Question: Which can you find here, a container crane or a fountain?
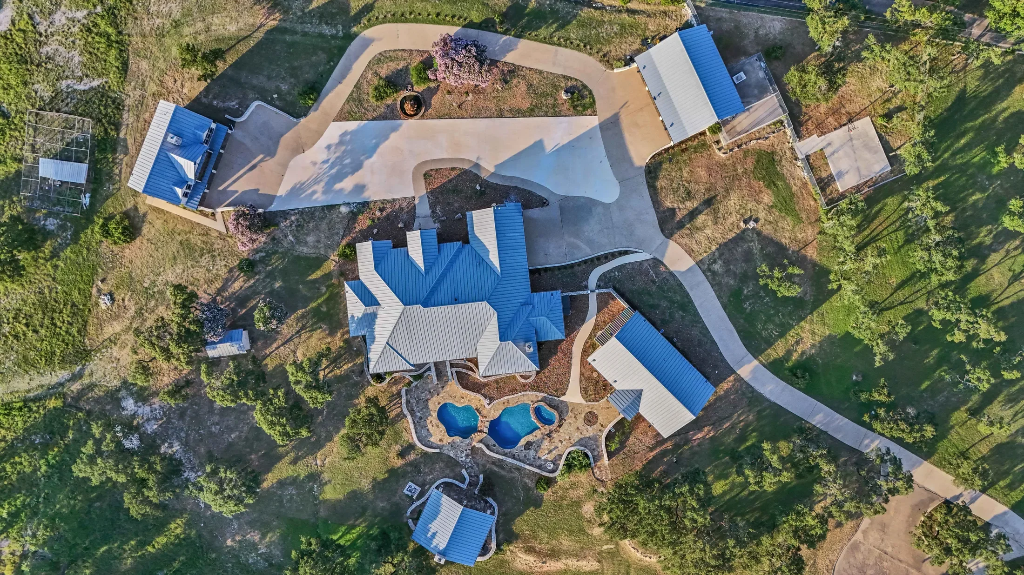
fountain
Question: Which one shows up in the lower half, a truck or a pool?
pool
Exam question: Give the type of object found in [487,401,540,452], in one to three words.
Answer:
swimming pool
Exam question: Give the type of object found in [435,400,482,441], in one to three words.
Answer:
swimming pool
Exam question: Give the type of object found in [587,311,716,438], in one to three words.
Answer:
building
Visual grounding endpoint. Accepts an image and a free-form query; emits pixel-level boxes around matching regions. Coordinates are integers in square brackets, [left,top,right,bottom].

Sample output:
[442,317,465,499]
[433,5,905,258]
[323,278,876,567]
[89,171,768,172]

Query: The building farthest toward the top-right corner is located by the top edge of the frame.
[635,24,745,143]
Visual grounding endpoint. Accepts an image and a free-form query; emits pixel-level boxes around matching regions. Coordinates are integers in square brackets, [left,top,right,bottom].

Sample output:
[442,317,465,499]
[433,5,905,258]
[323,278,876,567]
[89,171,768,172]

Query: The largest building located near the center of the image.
[344,203,565,376]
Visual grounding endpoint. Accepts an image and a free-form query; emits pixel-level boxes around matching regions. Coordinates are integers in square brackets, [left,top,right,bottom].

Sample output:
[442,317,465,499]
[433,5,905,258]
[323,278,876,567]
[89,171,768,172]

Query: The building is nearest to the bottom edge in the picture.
[411,488,495,567]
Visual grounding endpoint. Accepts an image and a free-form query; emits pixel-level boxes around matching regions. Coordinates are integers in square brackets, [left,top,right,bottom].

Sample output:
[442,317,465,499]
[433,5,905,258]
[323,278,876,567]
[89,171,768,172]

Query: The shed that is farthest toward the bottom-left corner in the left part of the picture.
[203,329,252,358]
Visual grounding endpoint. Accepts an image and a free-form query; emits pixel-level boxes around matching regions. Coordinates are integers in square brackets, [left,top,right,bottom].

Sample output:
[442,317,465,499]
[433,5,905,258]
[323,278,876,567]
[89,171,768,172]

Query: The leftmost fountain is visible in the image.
[397,90,424,119]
